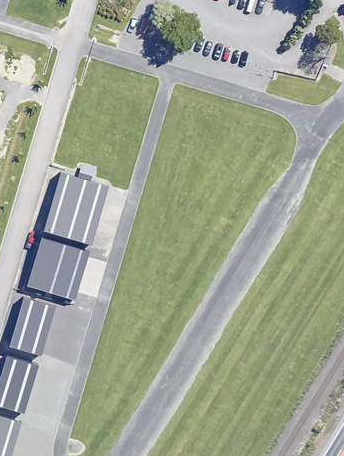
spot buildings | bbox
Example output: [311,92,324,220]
[27,238,90,300]
[8,297,56,356]
[0,355,39,414]
[0,414,22,456]
[44,172,109,246]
